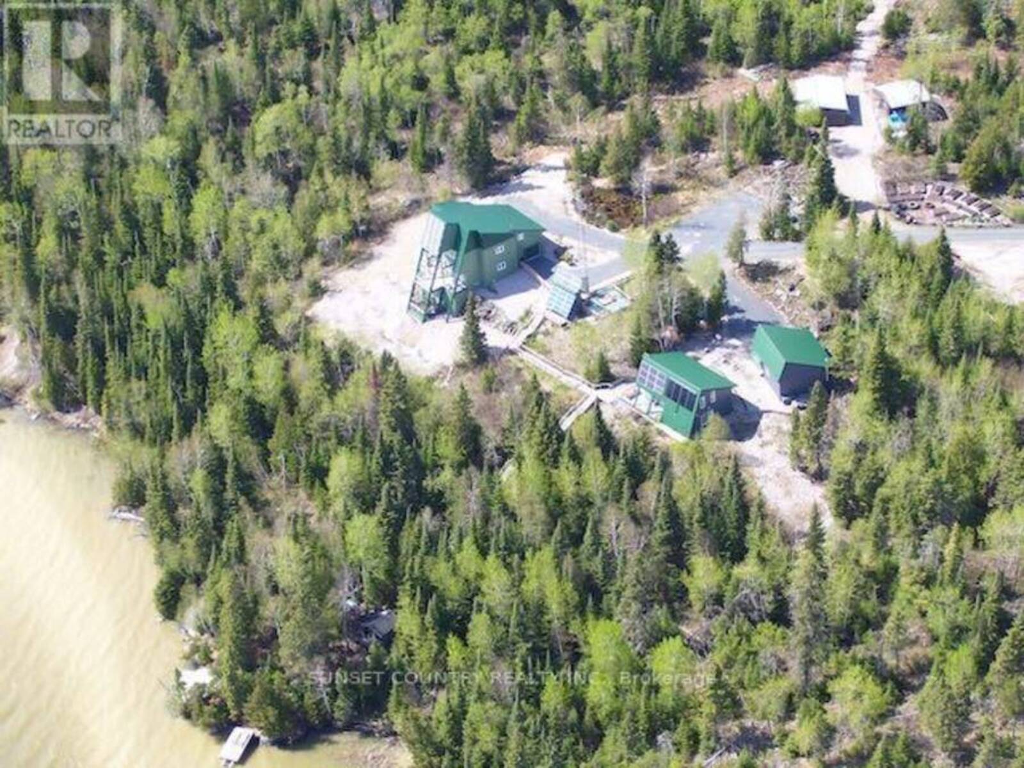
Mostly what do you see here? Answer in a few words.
trees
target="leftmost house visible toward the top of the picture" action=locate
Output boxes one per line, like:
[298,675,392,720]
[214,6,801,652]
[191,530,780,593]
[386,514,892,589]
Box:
[406,202,545,322]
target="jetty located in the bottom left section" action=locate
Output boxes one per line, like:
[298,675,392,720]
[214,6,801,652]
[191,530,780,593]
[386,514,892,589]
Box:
[219,728,253,768]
